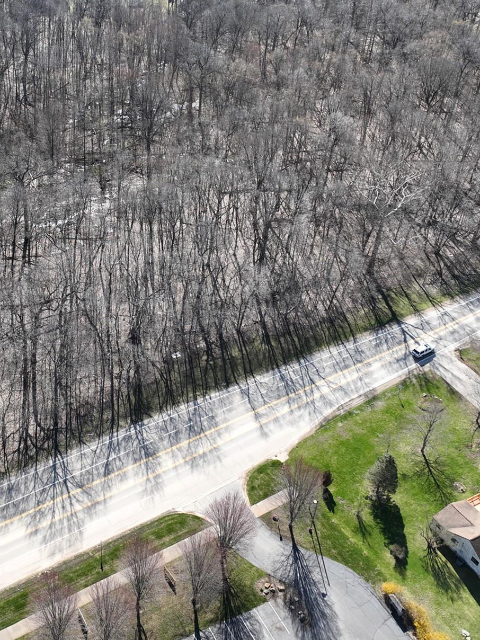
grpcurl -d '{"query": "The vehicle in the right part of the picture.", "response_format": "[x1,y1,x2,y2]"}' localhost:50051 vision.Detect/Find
[411,345,438,361]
